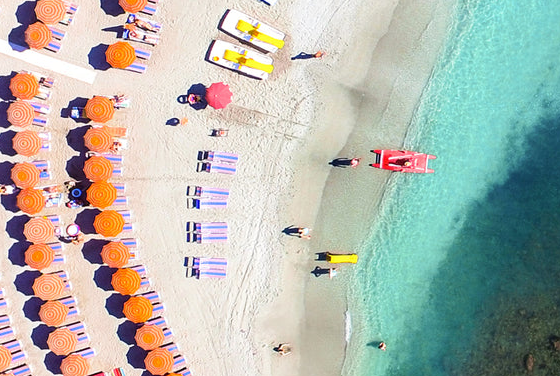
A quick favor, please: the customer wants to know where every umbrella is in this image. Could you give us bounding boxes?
[6,100,36,129]
[11,129,41,158]
[123,293,152,323]
[24,214,54,243]
[100,239,130,270]
[34,274,64,303]
[111,266,140,295]
[47,327,77,358]
[85,96,114,125]
[135,322,165,352]
[13,160,42,189]
[106,39,137,68]
[203,81,231,109]
[118,0,147,16]
[9,71,39,100]
[59,352,89,376]
[18,187,47,217]
[22,21,53,51]
[84,155,113,183]
[86,181,116,210]
[35,0,65,26]
[26,241,55,270]
[38,300,68,329]
[83,125,112,154]
[93,209,123,238]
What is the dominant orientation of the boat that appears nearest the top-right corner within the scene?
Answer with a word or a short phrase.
from side to side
